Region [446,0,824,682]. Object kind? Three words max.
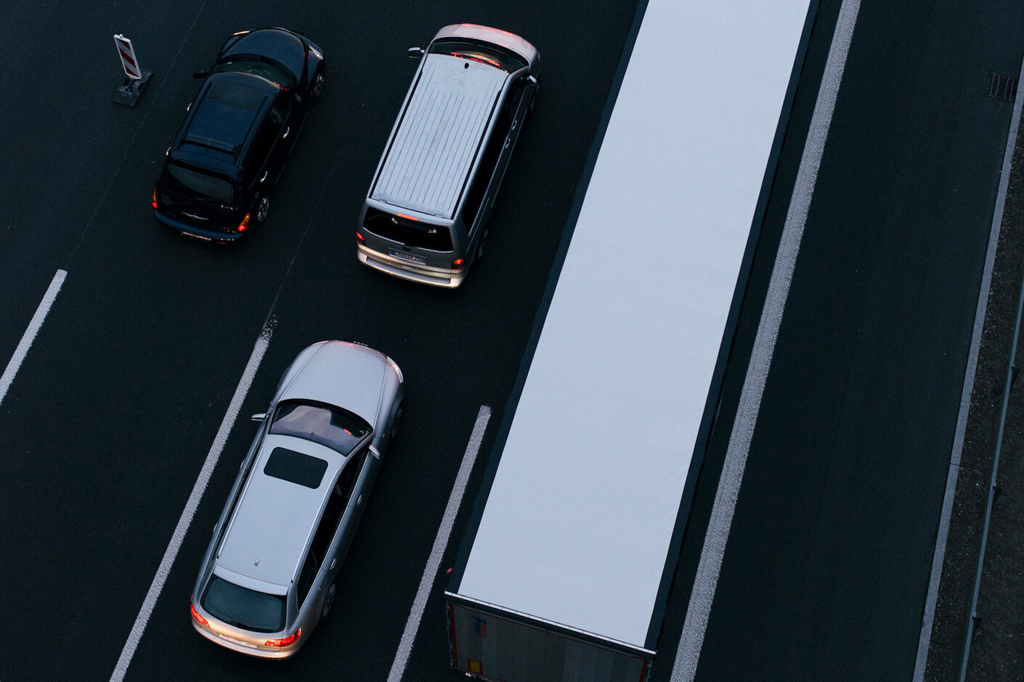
trailer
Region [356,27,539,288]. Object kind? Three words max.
van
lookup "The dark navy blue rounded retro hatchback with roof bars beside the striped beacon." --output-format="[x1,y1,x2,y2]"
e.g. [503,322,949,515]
[152,26,325,243]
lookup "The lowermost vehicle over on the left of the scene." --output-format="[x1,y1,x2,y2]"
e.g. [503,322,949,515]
[193,338,403,663]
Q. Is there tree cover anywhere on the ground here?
No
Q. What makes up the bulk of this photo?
paved ground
